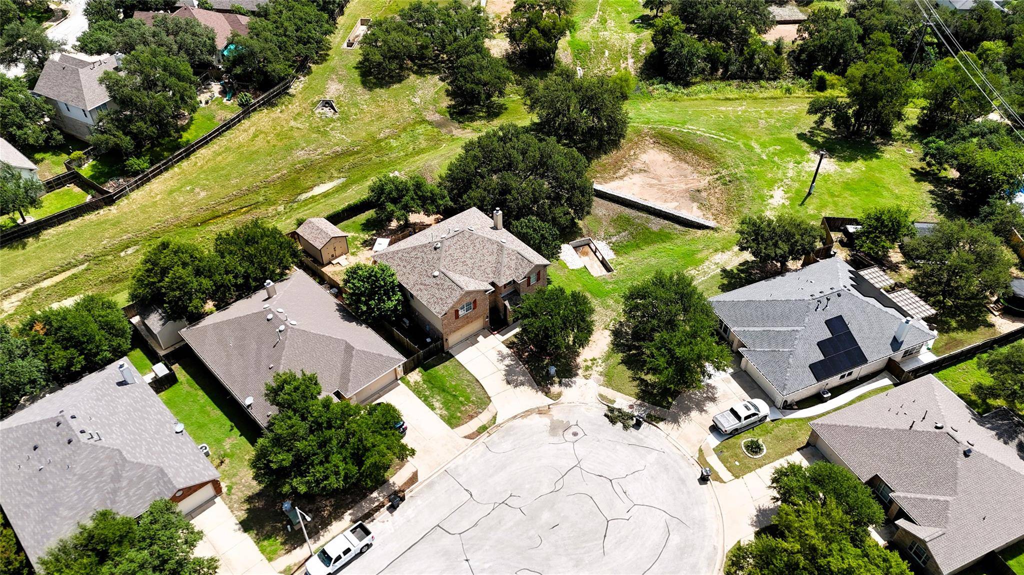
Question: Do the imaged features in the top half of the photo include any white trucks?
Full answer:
No, no white truck appears in the top half of the photo.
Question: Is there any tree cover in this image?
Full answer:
Yes, there's tree cover in this view.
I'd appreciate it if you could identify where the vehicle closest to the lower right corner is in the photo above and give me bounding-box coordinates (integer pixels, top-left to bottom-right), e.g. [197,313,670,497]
[711,401,771,435]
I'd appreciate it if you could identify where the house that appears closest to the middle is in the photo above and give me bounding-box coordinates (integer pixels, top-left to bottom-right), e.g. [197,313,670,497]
[372,206,552,349]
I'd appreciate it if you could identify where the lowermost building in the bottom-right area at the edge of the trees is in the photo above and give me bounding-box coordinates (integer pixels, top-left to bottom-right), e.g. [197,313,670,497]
[805,373,1024,575]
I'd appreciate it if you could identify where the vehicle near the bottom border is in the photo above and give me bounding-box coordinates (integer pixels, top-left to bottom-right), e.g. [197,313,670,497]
[304,522,373,575]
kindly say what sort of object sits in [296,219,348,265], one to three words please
shed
